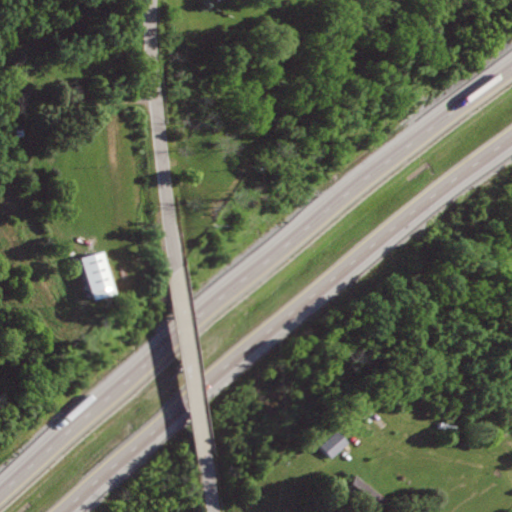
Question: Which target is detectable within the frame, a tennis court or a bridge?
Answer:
bridge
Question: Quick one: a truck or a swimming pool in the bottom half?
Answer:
truck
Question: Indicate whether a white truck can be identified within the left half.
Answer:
Yes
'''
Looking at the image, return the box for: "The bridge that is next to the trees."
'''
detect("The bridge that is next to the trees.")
[166,255,216,472]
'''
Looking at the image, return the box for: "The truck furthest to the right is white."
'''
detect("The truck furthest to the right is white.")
[456,73,504,110]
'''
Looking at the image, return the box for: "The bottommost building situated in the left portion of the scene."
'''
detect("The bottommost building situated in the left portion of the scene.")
[82,251,118,302]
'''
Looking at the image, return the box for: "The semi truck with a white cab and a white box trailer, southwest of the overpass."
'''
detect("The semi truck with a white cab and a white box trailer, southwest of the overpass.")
[57,394,98,432]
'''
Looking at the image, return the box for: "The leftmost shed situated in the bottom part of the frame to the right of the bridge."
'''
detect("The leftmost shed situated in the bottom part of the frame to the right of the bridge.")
[322,432,349,459]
